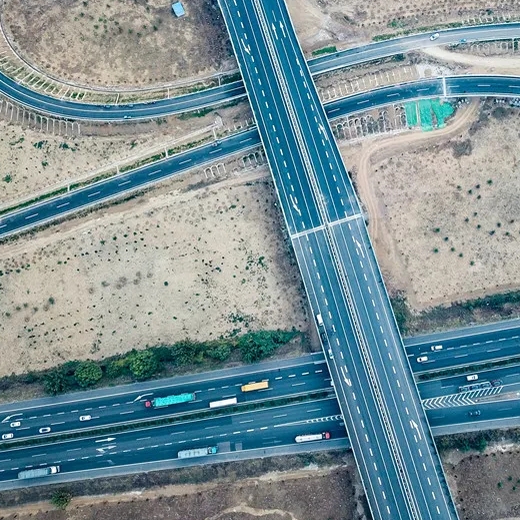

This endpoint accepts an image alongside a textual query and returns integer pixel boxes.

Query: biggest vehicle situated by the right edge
[458,378,502,395]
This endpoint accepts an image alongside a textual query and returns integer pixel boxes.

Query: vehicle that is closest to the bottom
[17,464,62,479]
